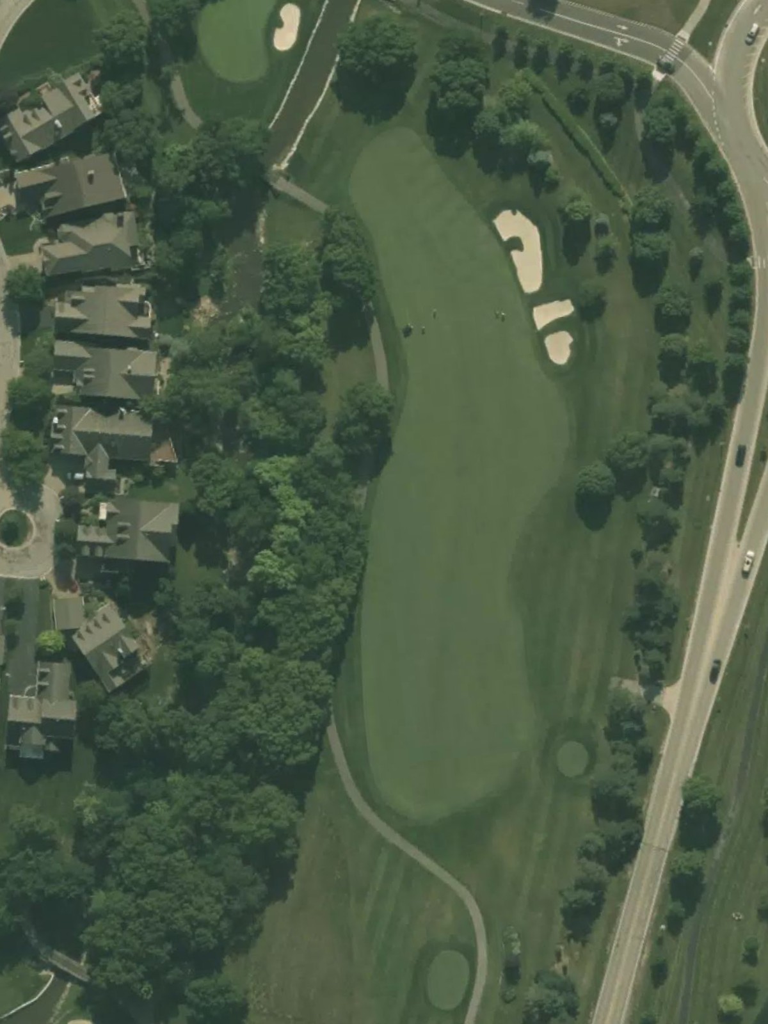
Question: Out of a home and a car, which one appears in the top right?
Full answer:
You can see a car in the top right.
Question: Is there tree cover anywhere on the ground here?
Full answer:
Yes, tree cover can be seen from above here.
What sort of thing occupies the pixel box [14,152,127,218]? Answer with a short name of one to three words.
house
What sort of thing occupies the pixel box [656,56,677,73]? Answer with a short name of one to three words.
car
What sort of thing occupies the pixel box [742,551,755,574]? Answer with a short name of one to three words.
vehicle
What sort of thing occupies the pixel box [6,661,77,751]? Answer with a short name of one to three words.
house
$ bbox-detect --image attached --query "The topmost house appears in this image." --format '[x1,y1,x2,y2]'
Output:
[0,73,101,163]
